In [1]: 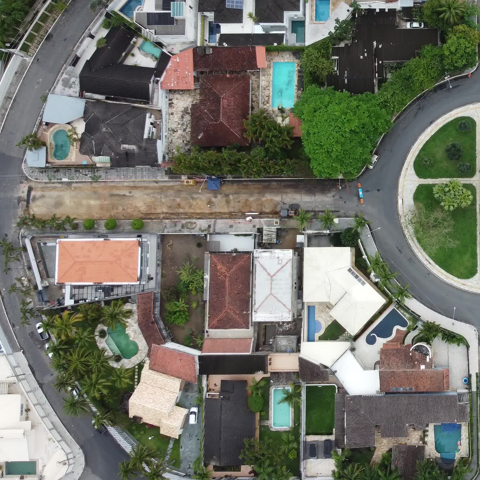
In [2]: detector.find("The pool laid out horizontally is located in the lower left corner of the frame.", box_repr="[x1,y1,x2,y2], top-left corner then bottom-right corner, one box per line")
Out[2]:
[3,460,37,476]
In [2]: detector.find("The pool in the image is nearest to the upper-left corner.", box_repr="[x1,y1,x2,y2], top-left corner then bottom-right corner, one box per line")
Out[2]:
[117,0,145,19]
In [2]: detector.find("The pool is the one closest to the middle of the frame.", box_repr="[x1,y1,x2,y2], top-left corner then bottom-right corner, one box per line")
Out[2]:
[307,305,323,340]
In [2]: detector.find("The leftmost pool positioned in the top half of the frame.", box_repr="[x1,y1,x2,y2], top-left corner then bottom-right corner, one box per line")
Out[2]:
[50,127,72,161]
